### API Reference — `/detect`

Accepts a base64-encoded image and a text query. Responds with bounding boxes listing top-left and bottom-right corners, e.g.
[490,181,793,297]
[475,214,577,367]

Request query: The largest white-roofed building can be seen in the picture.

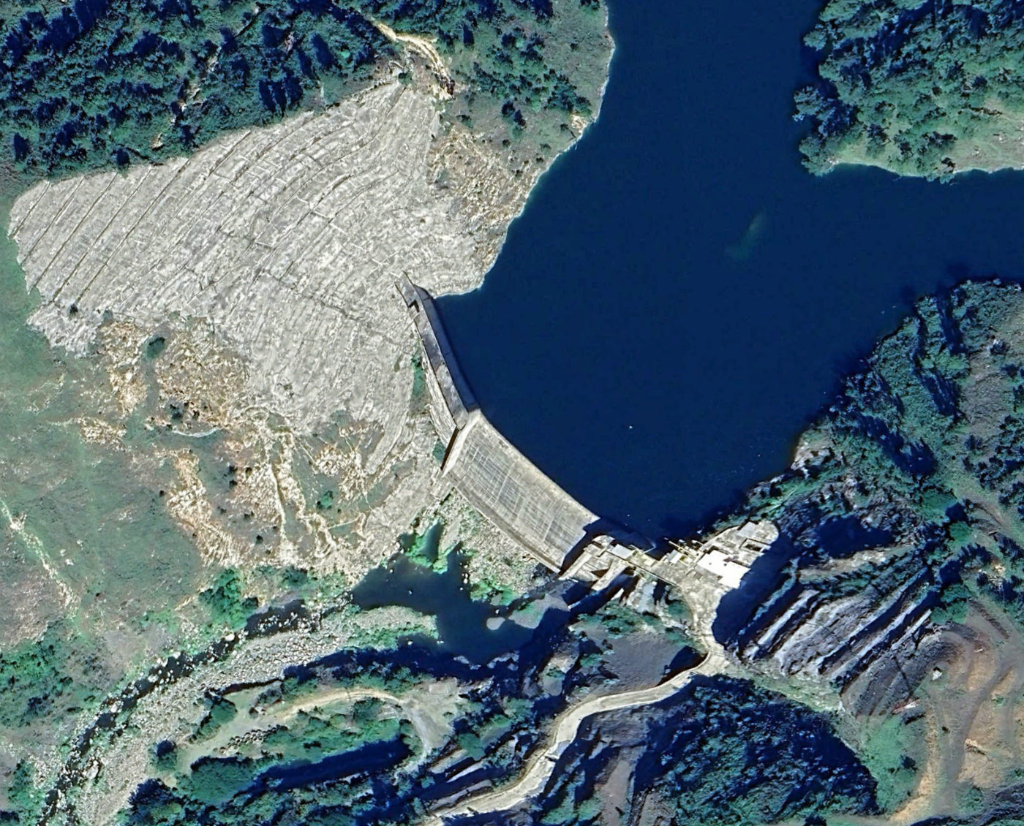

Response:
[696,548,754,589]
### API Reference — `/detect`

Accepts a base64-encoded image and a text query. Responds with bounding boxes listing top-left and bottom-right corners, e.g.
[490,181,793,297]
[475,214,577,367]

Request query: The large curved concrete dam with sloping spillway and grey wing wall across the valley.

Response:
[397,272,680,591]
